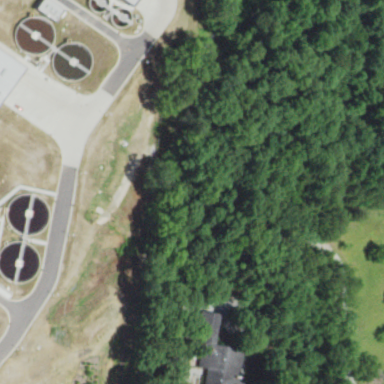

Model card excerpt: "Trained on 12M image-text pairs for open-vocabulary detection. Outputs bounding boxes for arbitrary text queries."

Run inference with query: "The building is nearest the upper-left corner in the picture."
[38,0,64,21]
